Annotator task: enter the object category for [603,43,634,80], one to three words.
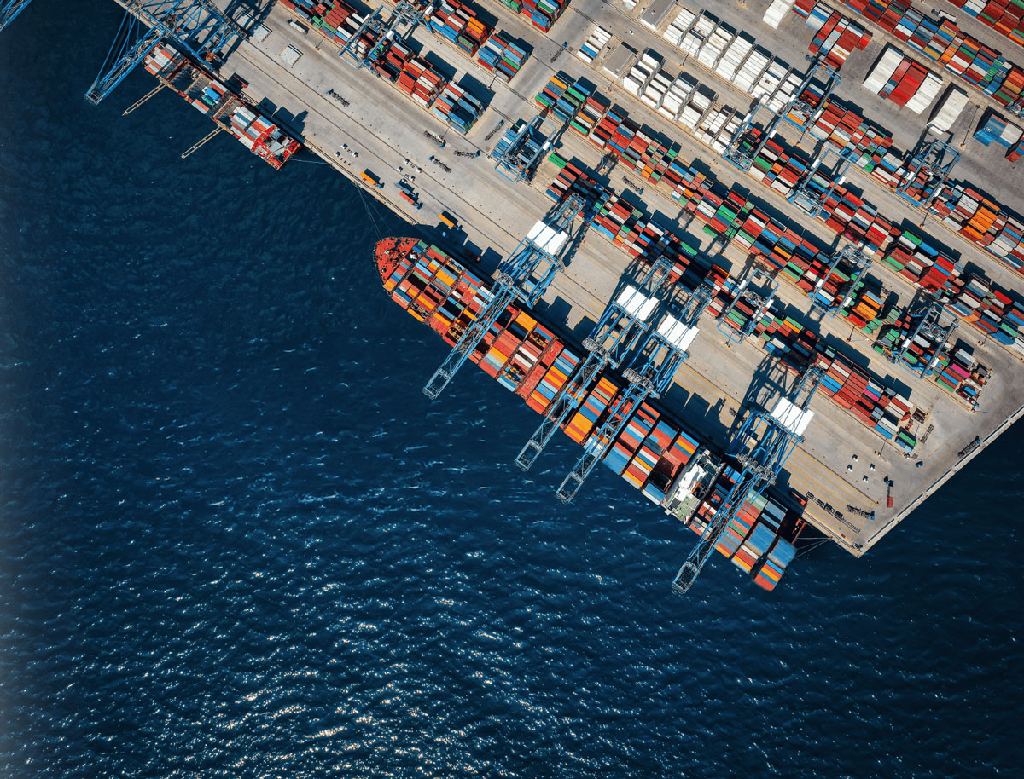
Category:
building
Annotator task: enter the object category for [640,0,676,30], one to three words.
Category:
building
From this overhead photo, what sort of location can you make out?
port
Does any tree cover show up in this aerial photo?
No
